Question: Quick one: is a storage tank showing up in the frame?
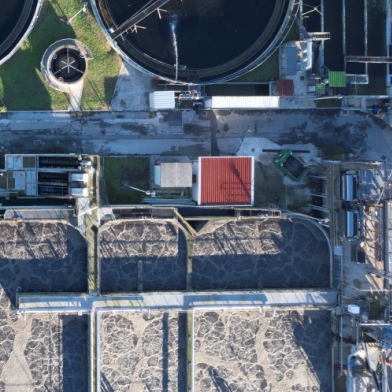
Yes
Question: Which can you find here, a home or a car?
home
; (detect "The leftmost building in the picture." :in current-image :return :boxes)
[0,155,91,198]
